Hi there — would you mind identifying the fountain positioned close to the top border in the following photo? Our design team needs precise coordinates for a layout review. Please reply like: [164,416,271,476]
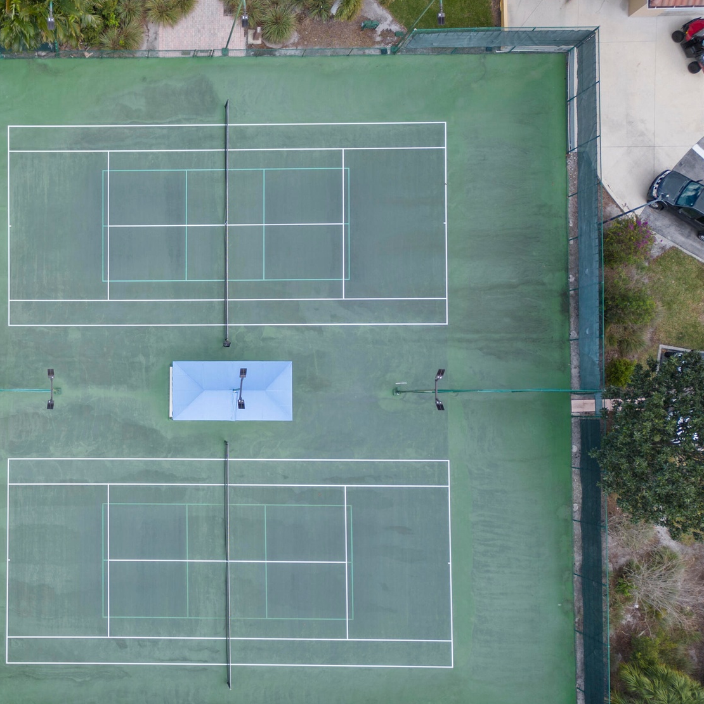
[249,27,263,46]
